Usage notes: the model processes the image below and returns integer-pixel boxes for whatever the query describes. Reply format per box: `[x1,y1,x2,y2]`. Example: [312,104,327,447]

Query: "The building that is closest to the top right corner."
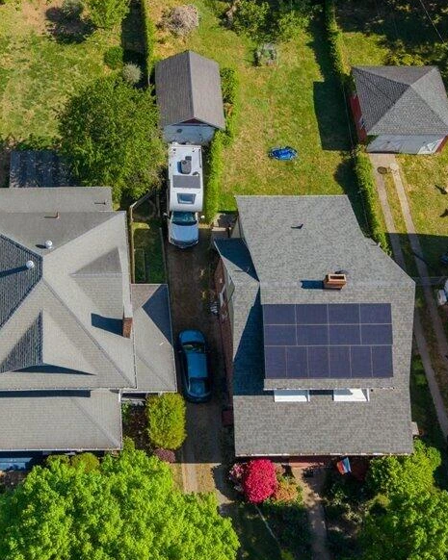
[346,65,448,153]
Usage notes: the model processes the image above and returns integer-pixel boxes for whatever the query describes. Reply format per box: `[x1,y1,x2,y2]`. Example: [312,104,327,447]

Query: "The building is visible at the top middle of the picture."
[158,50,226,148]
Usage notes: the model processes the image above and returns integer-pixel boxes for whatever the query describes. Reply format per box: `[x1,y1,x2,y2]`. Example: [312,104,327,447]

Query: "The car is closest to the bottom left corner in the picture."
[176,329,216,407]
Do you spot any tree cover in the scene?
Yes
